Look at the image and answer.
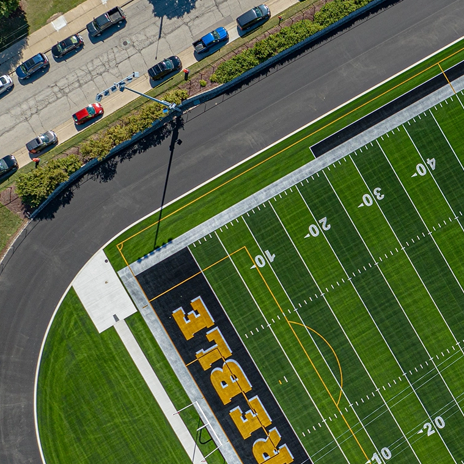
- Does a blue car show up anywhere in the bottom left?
No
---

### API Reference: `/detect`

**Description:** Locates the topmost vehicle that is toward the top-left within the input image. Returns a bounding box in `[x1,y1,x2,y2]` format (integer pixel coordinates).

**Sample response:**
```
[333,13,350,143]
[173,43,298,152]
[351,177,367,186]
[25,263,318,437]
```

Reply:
[87,5,129,37]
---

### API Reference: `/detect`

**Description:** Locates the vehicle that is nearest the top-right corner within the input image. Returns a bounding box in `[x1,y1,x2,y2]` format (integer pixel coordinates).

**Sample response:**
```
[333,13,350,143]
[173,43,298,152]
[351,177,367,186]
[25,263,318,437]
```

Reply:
[235,3,272,31]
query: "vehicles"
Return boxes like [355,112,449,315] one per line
[191,25,229,55]
[71,101,105,126]
[0,74,17,95]
[235,3,272,31]
[0,156,18,178]
[148,55,182,80]
[52,32,86,58]
[24,129,61,156]
[16,53,50,79]
[87,5,129,37]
